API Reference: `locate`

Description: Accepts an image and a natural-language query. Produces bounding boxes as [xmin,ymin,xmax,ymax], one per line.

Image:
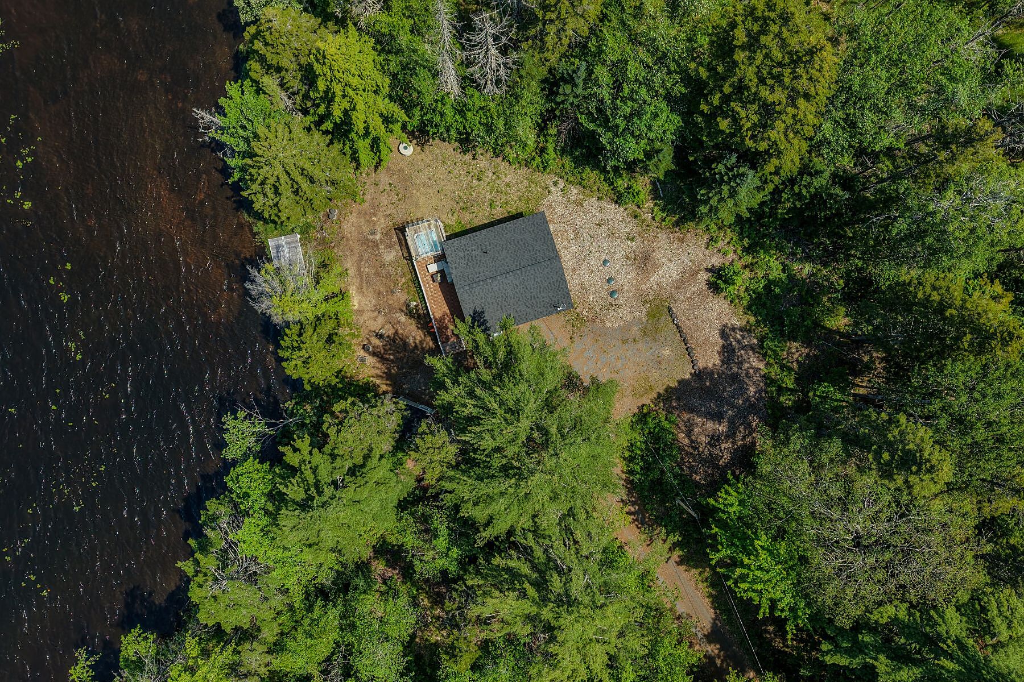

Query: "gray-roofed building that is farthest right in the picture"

[442,211,573,337]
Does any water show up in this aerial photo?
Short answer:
Yes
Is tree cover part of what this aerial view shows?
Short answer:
Yes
